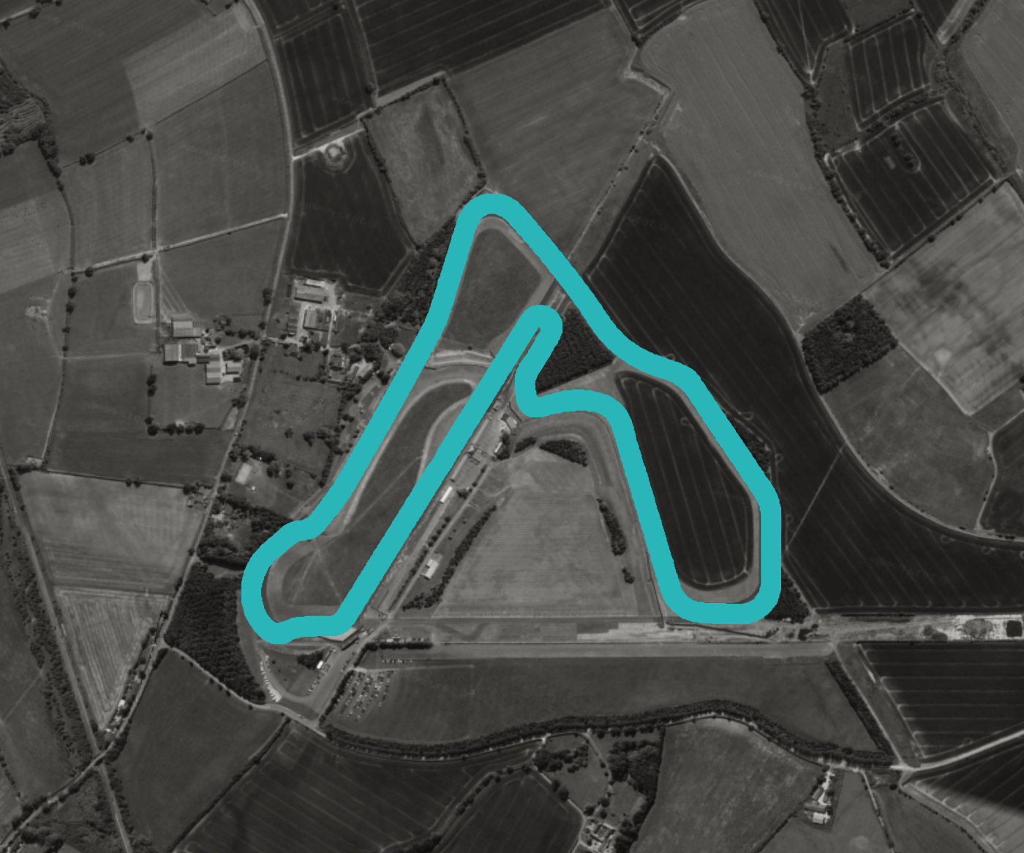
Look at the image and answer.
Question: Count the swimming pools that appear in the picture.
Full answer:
The picture shows no swimming pools.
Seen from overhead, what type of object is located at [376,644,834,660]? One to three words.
runway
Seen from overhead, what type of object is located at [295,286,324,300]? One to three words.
barn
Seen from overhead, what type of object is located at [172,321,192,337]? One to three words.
barn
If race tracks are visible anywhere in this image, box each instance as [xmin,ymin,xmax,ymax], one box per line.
[241,193,781,644]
